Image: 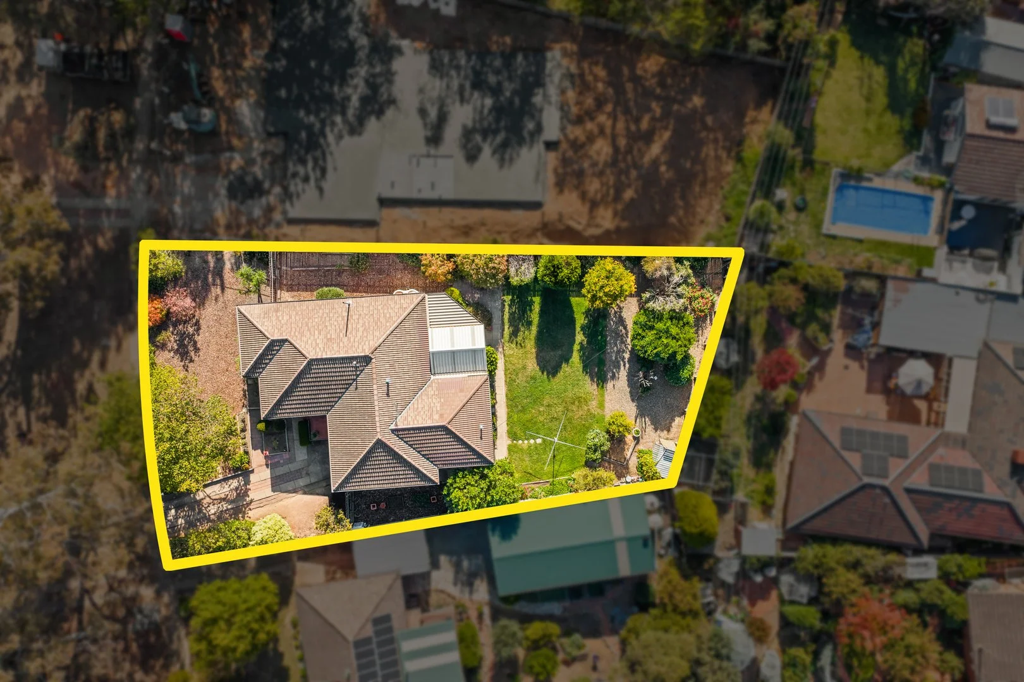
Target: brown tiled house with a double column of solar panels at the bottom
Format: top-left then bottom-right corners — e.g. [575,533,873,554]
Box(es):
[293,572,416,682]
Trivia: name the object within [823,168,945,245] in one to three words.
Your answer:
swimming pool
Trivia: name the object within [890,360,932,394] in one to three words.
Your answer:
umbrella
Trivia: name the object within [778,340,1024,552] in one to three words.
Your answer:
house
